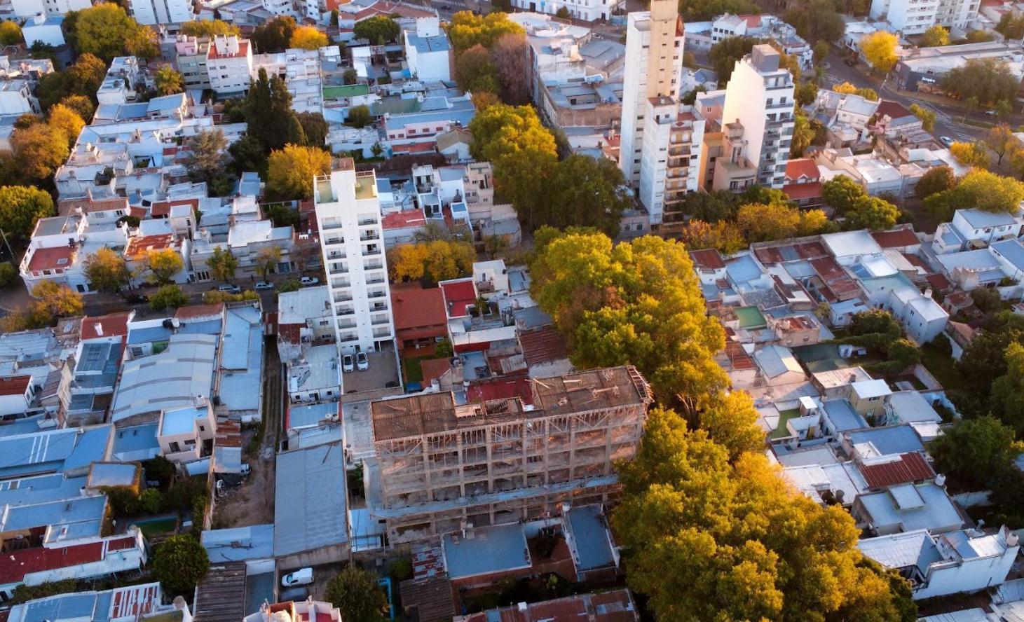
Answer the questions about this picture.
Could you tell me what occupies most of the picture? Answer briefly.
buildings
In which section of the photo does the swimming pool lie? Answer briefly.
bottom left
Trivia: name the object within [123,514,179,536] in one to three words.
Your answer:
swimming pool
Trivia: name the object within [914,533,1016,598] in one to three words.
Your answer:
house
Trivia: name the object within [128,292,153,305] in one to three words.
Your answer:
vehicle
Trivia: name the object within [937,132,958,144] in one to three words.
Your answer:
vehicle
